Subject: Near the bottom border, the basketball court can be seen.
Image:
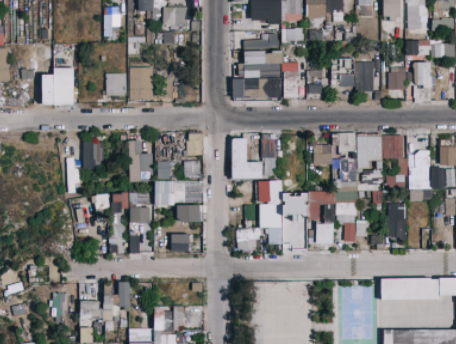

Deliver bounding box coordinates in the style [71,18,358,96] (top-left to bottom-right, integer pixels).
[338,286,377,344]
